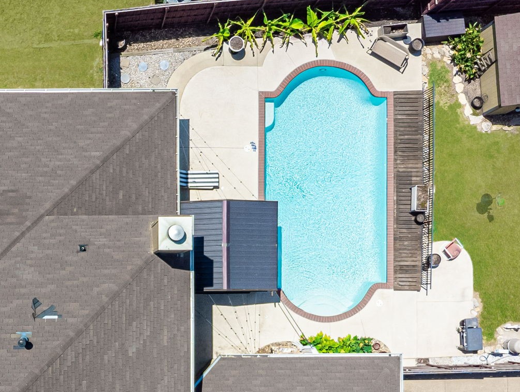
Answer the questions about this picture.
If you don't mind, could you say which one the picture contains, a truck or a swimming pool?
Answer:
swimming pool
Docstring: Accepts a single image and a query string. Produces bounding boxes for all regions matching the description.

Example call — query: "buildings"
[478,12,520,114]
[0,88,406,392]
